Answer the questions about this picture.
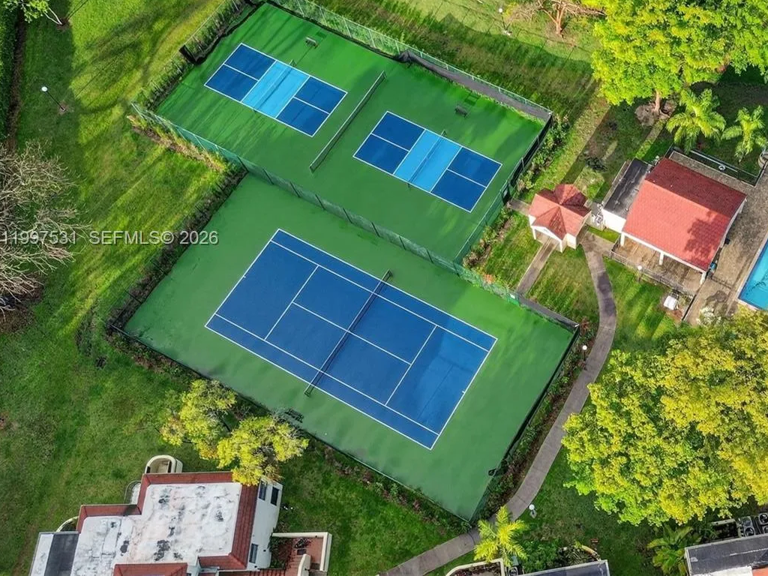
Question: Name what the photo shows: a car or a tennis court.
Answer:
tennis court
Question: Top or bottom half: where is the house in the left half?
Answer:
bottom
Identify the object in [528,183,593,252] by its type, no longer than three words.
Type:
gazebo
